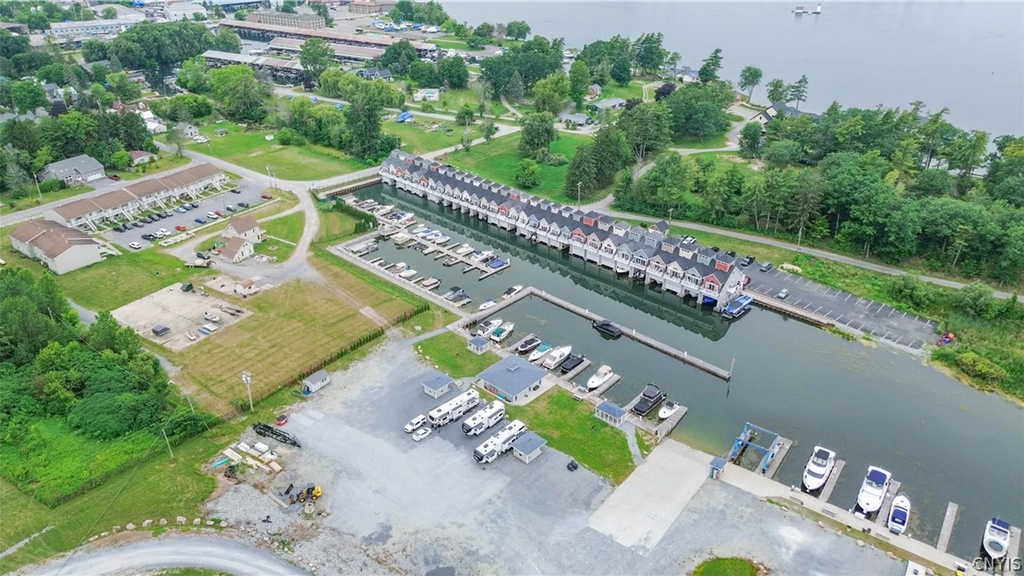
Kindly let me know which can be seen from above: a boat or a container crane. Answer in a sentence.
Visible in the photo is a boat.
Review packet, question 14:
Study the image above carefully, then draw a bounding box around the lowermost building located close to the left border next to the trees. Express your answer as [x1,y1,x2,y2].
[14,216,120,274]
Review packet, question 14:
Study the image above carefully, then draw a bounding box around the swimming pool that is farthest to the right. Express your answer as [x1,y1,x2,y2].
[414,89,444,101]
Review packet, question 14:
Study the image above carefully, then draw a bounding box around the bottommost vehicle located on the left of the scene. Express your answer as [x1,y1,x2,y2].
[290,482,324,508]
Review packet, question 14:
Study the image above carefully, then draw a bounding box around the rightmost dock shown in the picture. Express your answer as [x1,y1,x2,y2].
[986,526,1022,576]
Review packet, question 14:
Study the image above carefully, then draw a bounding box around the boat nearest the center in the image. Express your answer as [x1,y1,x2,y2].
[499,280,523,299]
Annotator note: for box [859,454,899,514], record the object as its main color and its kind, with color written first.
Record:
white boat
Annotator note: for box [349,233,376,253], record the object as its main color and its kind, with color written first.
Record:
white boat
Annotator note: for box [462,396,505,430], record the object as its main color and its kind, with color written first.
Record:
white camper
